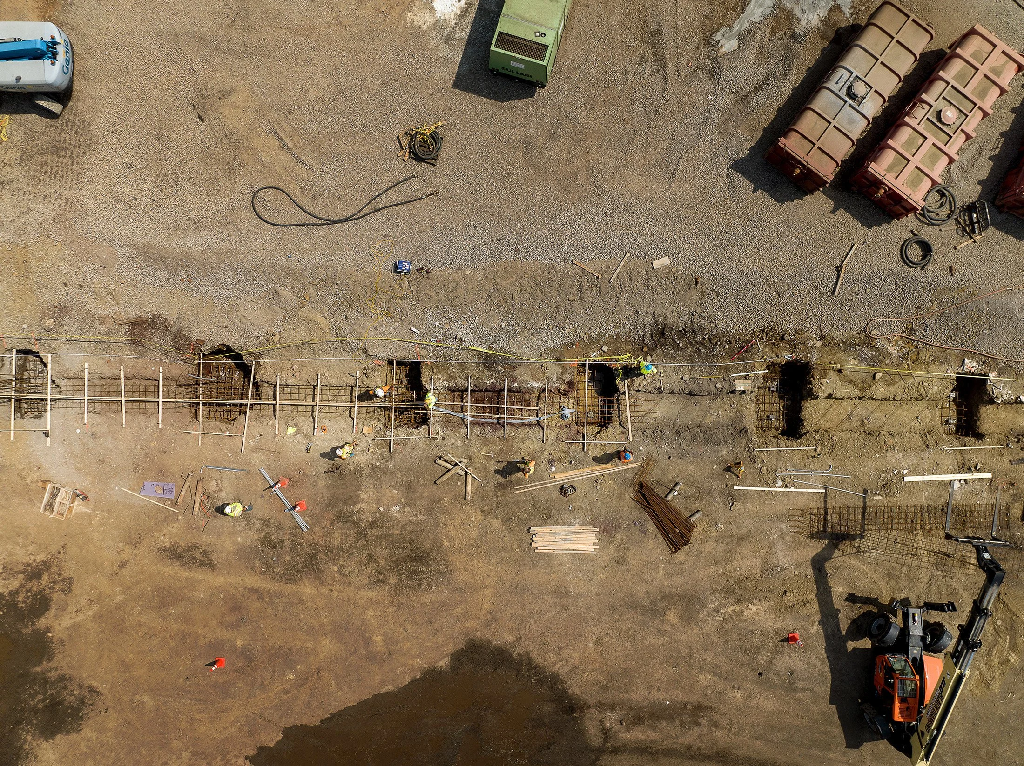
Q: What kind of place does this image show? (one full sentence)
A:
The picture captures an industrial area.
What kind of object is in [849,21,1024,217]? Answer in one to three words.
storage tank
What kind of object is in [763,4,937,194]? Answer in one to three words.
storage tank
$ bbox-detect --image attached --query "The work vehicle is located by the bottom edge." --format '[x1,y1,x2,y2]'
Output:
[860,482,1022,766]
